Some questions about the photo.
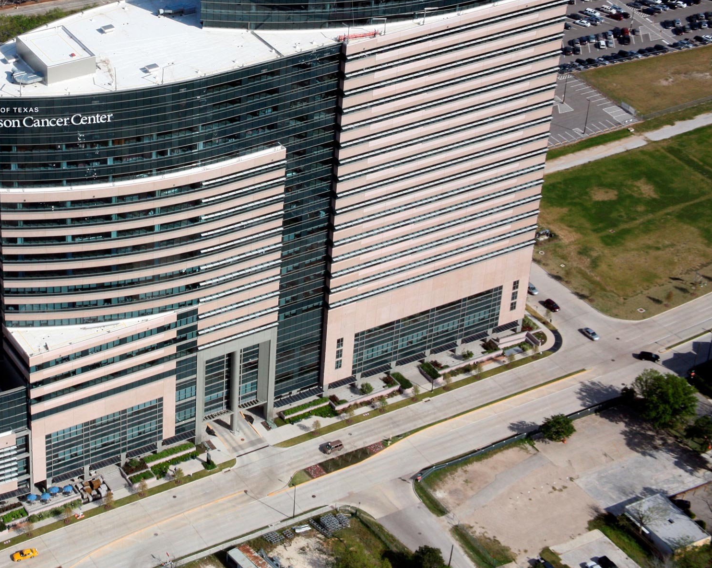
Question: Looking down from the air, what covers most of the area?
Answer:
buildings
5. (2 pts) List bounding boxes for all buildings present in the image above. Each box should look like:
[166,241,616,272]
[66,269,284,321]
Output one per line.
[0,0,569,488]
[227,545,274,568]
[624,494,712,566]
